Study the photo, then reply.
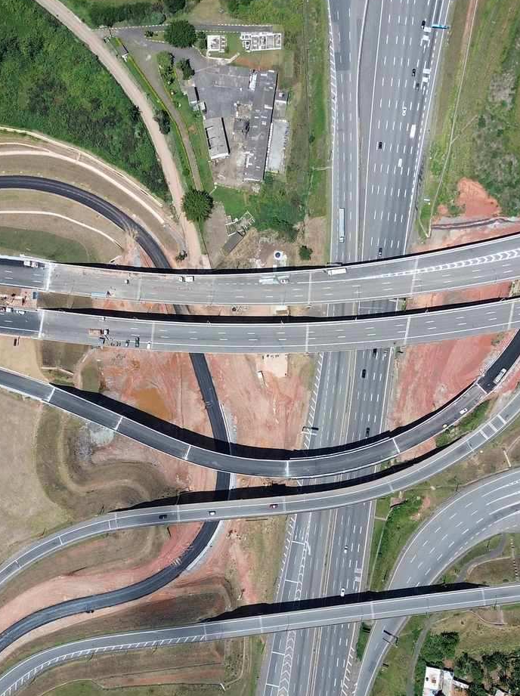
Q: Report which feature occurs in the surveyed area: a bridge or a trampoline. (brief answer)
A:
bridge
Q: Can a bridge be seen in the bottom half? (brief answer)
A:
Yes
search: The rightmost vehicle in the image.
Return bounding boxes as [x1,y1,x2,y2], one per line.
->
[492,368,508,383]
